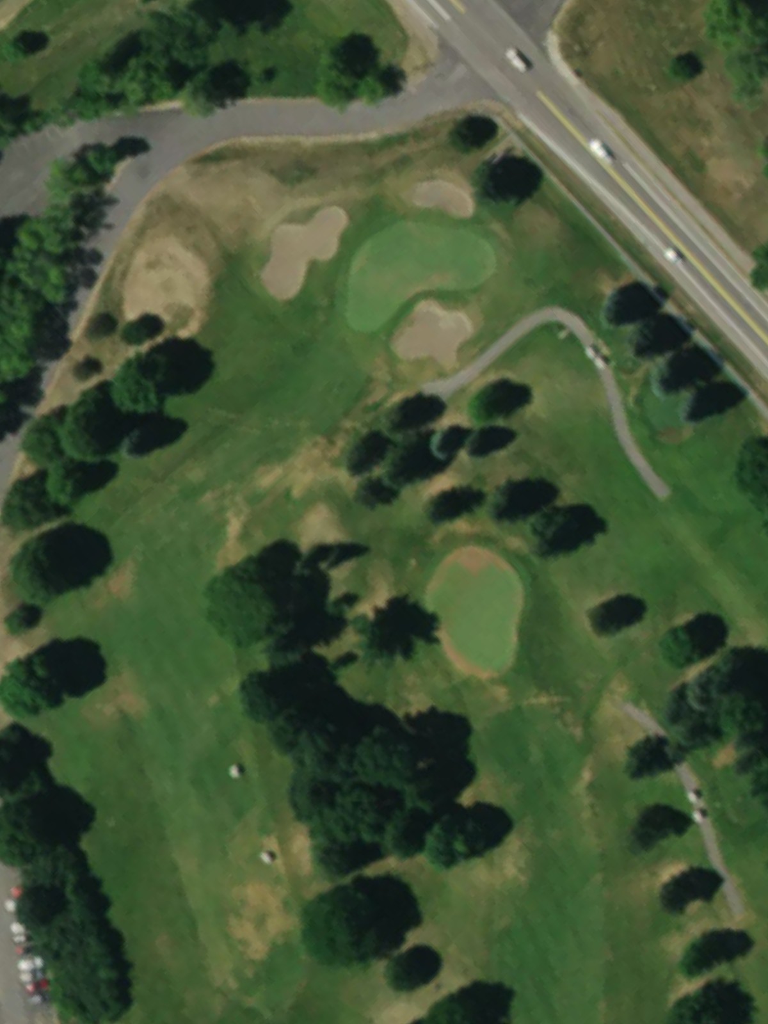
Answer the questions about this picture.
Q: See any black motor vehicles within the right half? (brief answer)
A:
No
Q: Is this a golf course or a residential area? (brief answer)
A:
golf course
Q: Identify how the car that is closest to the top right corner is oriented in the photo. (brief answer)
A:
on a diagonal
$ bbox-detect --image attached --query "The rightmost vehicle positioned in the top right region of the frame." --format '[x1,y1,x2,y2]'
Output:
[662,245,681,265]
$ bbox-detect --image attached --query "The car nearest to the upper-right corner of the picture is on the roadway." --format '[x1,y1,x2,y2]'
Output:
[590,139,612,161]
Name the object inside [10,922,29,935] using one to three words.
vehicle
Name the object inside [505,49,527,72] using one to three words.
car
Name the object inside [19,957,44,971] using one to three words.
car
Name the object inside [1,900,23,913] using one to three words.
vehicle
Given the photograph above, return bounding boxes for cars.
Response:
[19,969,43,983]
[28,992,53,1006]
[12,932,33,945]
[10,922,29,935]
[1,900,23,913]
[505,49,527,72]
[19,957,44,971]
[590,139,612,161]
[24,980,48,993]
[662,245,681,265]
